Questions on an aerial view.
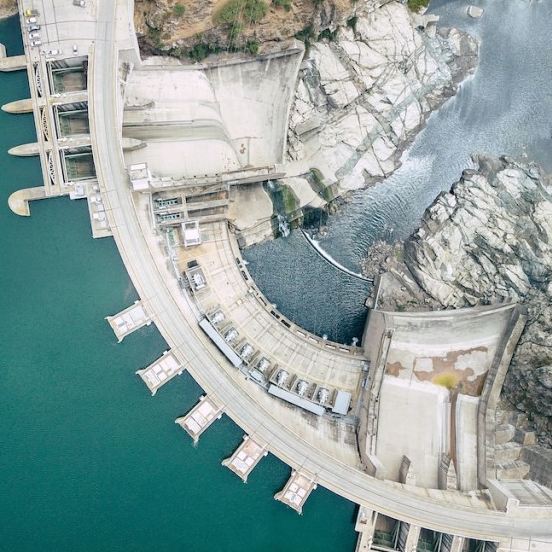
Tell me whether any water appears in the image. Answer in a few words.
Yes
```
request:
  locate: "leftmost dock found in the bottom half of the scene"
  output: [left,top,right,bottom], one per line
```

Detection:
[350,506,377,552]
